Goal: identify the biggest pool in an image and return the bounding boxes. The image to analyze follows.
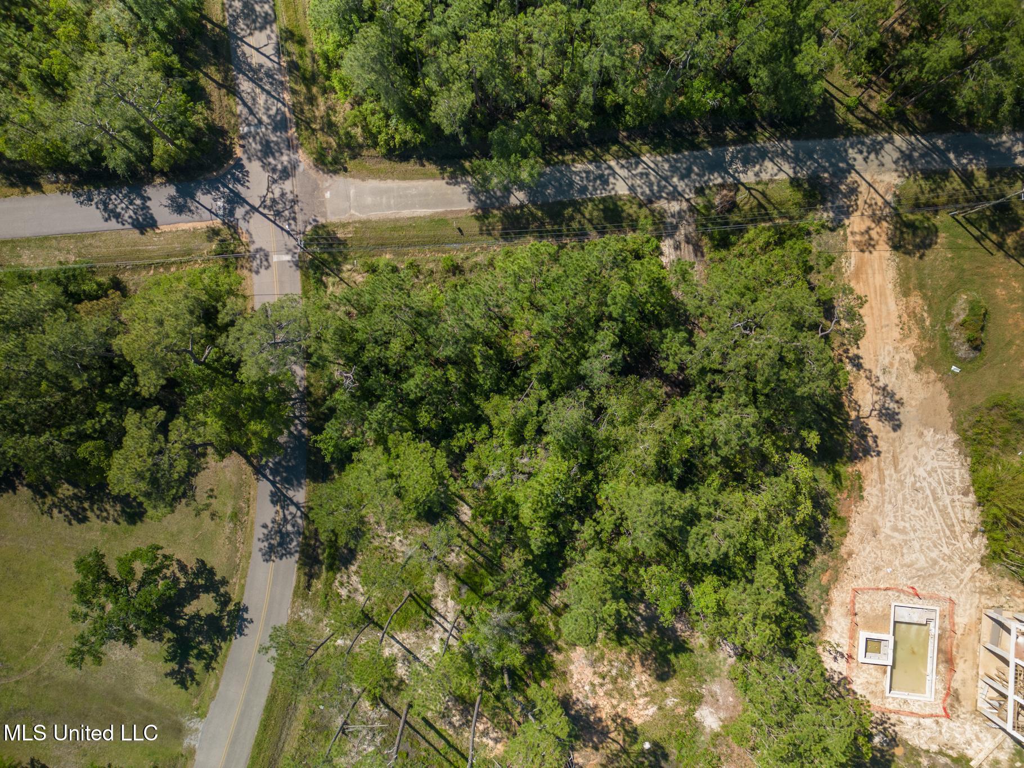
[884,602,942,702]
